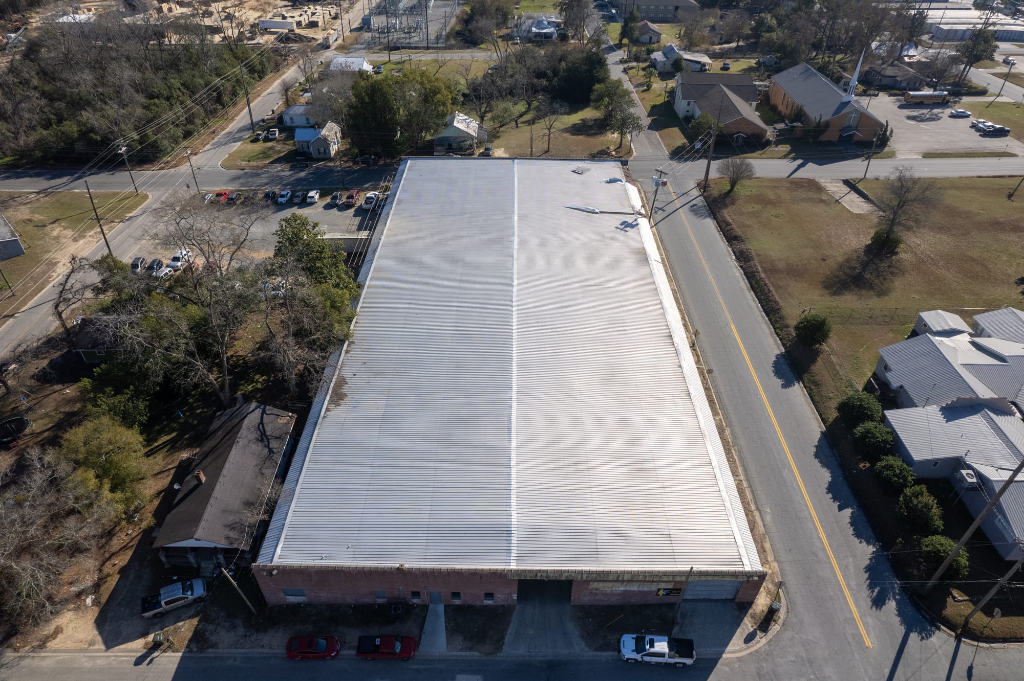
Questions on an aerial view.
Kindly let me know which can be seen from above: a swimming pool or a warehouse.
warehouse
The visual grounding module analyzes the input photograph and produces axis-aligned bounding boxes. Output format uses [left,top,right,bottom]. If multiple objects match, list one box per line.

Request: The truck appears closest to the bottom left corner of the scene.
[138,582,207,621]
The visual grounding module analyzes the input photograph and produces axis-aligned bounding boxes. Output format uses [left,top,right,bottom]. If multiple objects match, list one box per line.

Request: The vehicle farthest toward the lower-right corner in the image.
[622,638,696,674]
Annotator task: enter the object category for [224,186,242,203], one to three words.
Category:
car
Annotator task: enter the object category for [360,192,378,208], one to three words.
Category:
vehicle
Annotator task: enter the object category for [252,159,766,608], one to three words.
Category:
warehouse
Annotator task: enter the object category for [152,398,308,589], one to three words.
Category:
house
